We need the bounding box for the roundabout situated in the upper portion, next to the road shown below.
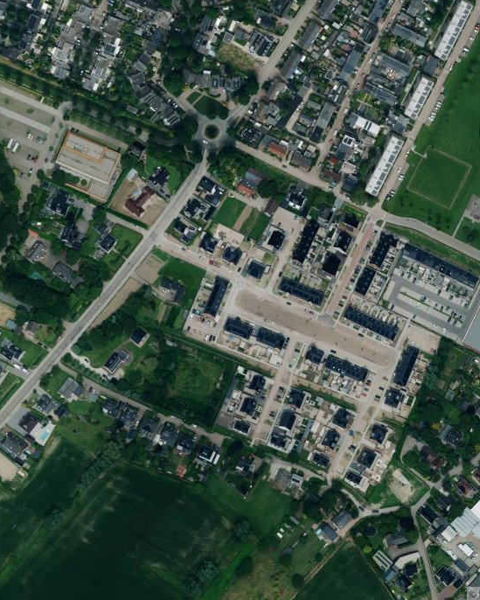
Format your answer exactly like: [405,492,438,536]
[196,117,233,154]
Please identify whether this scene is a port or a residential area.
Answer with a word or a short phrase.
residential area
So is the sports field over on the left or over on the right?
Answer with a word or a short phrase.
right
